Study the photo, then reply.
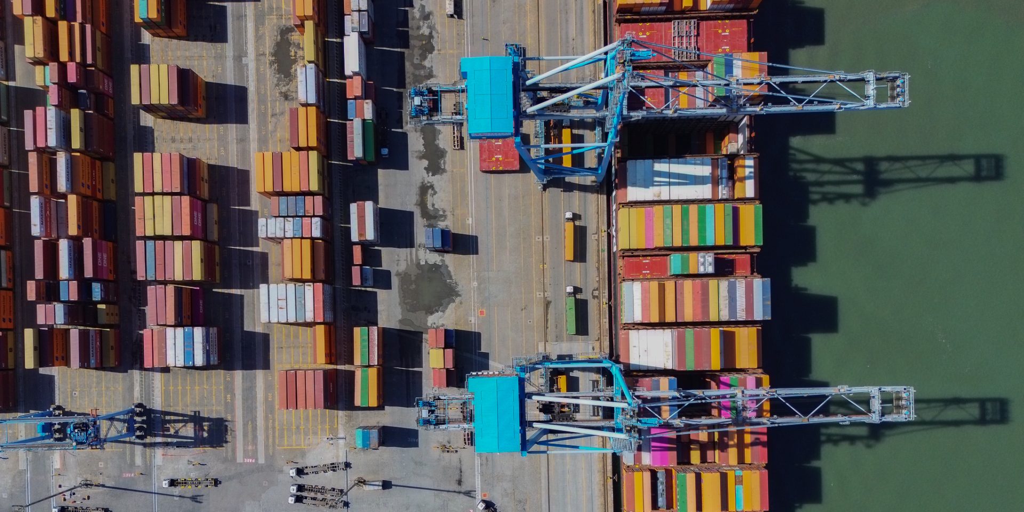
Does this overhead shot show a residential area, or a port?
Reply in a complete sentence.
It's a port.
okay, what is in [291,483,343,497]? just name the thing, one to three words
vehicle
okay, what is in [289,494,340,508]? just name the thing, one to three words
vehicle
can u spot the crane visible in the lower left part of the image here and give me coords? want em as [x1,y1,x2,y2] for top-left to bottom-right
[0,401,143,454]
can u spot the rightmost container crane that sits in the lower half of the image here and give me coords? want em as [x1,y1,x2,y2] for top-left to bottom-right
[415,348,922,463]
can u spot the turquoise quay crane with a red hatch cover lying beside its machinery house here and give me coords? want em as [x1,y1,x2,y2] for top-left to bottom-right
[408,31,916,193]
